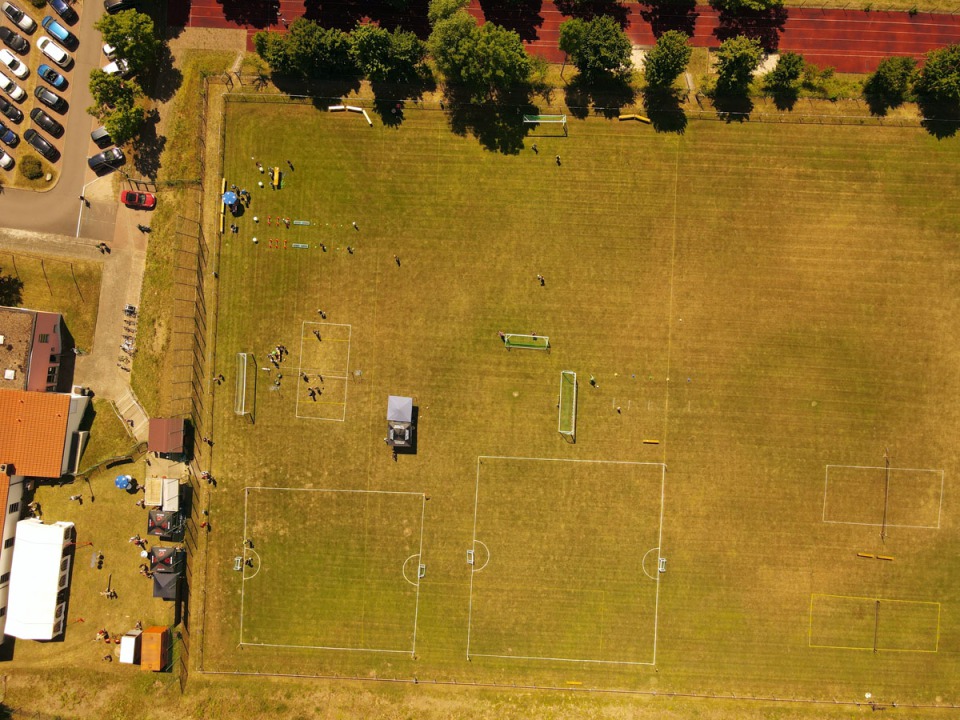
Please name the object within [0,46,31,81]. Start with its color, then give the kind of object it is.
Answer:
white car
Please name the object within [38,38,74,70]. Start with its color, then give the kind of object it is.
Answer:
white car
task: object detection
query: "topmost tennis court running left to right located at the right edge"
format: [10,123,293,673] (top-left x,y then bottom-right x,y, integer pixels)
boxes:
[823,465,944,528]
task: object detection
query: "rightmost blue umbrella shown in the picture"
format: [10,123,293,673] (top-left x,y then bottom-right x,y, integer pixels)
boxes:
[222,191,237,205]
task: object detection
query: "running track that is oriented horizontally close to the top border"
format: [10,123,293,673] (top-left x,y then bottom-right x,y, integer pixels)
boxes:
[162,0,960,78]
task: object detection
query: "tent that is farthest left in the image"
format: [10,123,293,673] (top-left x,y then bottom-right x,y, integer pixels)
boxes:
[4,521,74,646]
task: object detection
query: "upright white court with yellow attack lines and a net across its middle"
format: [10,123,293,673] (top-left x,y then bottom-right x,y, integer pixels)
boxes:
[296,322,352,420]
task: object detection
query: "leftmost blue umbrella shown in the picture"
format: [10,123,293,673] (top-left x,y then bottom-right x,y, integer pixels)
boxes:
[115,475,133,488]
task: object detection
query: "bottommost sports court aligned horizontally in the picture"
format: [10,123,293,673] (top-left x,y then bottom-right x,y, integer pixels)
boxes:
[809,594,940,652]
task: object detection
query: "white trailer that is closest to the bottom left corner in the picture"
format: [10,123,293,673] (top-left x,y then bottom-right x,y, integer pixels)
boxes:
[120,616,142,664]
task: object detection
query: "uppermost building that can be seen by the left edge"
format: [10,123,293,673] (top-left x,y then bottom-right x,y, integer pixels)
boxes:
[0,303,79,392]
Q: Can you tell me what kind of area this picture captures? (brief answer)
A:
sports ground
